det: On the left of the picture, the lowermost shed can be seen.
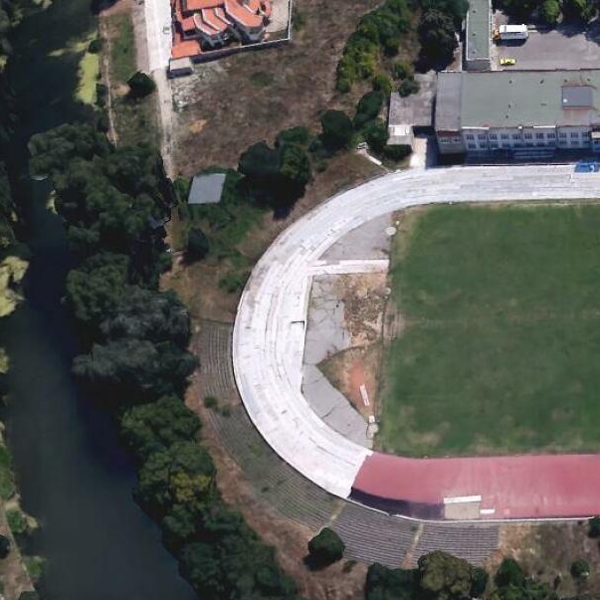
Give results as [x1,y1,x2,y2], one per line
[188,173,228,209]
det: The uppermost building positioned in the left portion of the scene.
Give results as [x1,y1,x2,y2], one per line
[172,0,273,61]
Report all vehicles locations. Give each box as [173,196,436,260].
[496,27,528,43]
[500,56,516,65]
